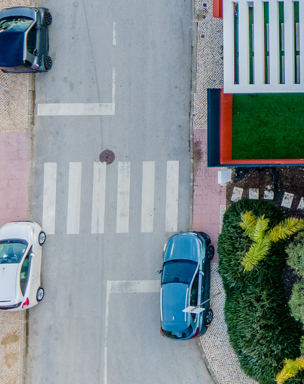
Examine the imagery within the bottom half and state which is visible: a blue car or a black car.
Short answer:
blue car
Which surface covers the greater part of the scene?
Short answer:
paved ground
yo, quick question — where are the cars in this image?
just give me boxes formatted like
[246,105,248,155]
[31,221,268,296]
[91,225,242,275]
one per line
[0,4,61,74]
[0,217,50,313]
[146,228,211,341]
